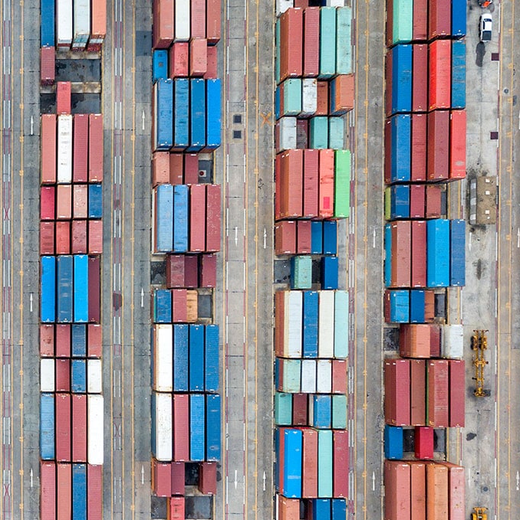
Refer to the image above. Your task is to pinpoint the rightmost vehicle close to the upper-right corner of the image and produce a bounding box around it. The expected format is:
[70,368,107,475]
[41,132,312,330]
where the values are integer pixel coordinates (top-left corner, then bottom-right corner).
[478,14,492,44]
